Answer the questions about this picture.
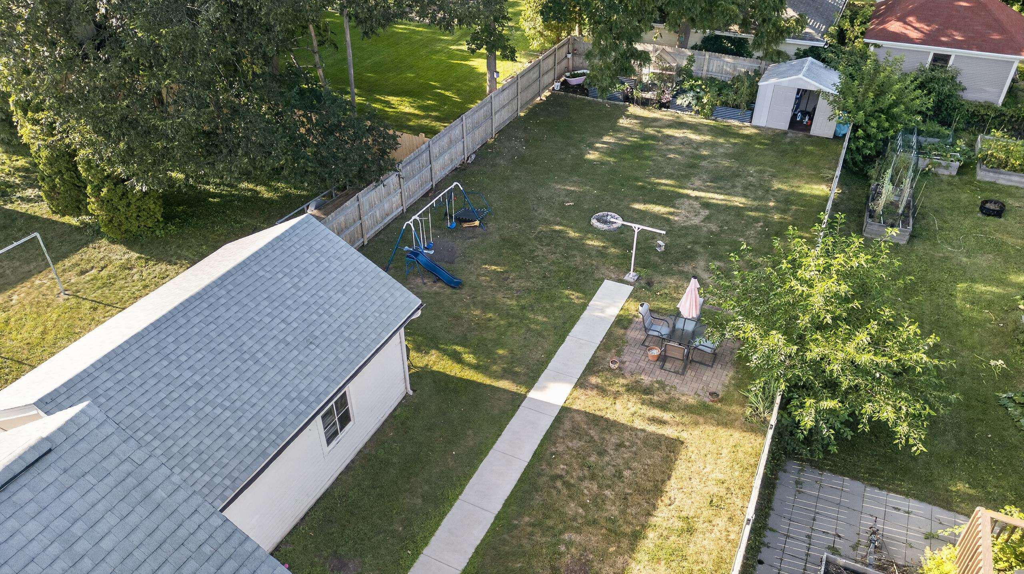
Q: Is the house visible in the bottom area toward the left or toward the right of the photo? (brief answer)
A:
left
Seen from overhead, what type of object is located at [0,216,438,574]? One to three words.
house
